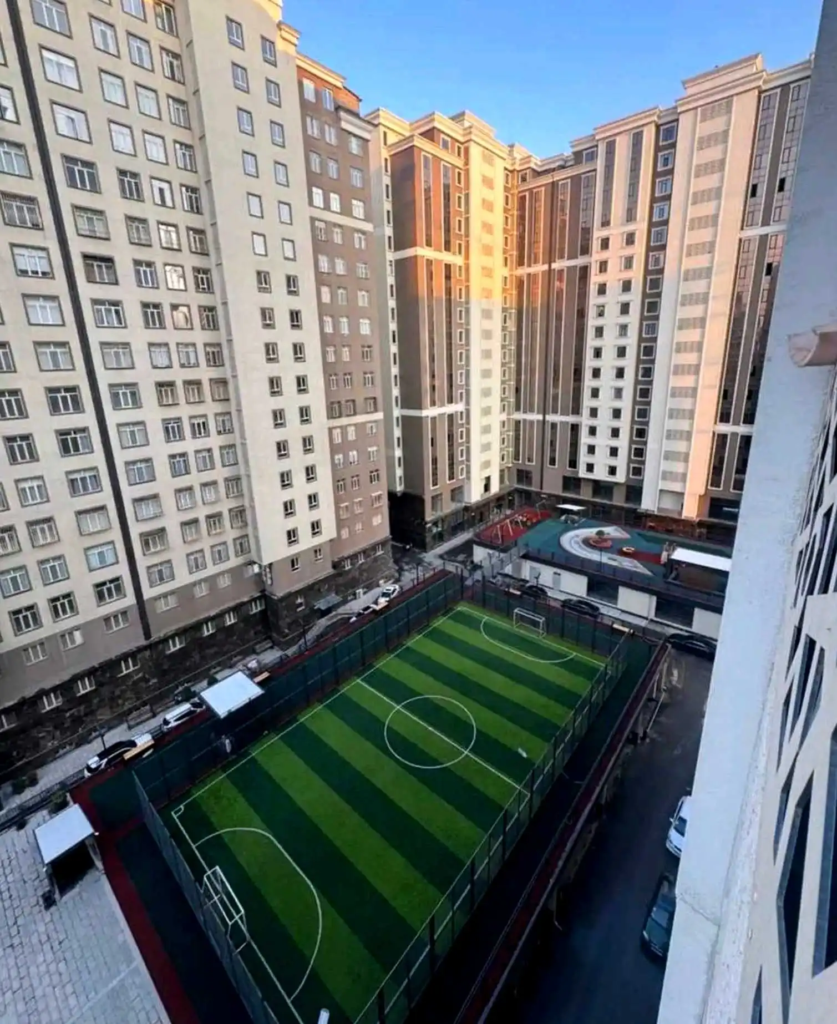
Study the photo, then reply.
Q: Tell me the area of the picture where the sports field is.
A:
bottom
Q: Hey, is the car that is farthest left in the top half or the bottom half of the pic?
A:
bottom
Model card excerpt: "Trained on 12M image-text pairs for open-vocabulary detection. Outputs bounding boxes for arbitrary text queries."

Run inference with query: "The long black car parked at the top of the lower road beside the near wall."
[666,631,718,664]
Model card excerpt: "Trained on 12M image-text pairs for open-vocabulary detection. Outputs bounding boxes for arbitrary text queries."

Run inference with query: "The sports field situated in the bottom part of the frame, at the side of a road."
[158,599,625,1024]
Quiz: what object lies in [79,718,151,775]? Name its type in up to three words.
car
